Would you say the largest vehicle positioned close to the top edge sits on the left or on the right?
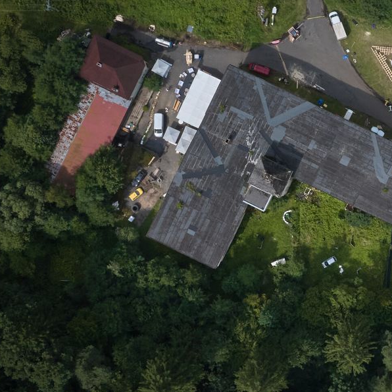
right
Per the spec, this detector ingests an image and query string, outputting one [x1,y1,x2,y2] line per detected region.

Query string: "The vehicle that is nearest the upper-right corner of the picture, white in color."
[327,11,347,43]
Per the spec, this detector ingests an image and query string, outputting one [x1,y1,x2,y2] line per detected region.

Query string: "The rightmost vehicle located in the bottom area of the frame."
[321,254,337,268]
